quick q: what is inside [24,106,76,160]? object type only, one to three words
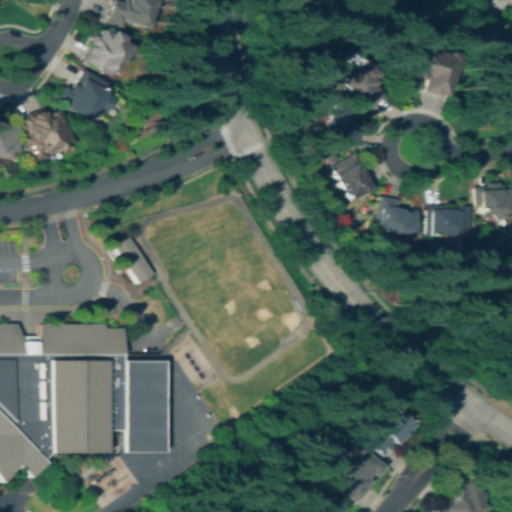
house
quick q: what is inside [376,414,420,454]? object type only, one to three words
house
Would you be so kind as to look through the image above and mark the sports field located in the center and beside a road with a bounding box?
[144,202,300,376]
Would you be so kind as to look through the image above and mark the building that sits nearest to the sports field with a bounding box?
[115,238,156,284]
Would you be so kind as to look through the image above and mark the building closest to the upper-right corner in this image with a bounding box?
[428,50,464,95]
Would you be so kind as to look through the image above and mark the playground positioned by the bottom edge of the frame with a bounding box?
[84,457,139,508]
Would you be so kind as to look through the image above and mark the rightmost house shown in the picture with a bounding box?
[472,184,512,218]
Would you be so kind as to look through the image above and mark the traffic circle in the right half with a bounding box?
[388,115,454,184]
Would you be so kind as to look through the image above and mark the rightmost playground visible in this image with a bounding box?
[174,334,218,388]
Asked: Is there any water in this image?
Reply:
No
